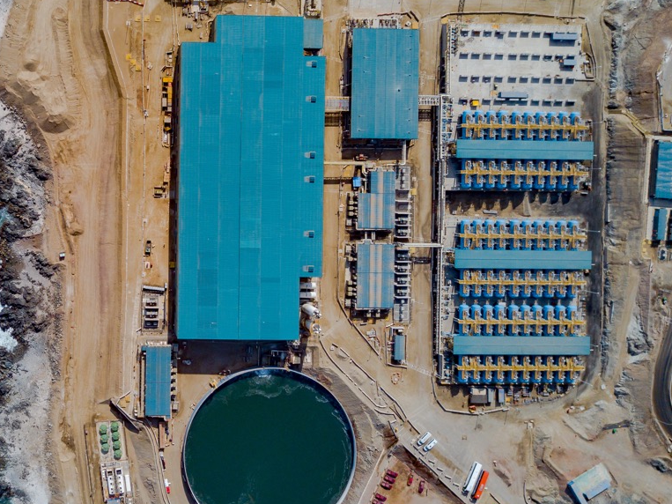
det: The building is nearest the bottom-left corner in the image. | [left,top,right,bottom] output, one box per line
[145,342,172,416]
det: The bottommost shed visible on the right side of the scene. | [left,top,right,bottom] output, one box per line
[568,463,611,504]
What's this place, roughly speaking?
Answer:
industrial area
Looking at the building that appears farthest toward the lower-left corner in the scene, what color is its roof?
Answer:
blue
